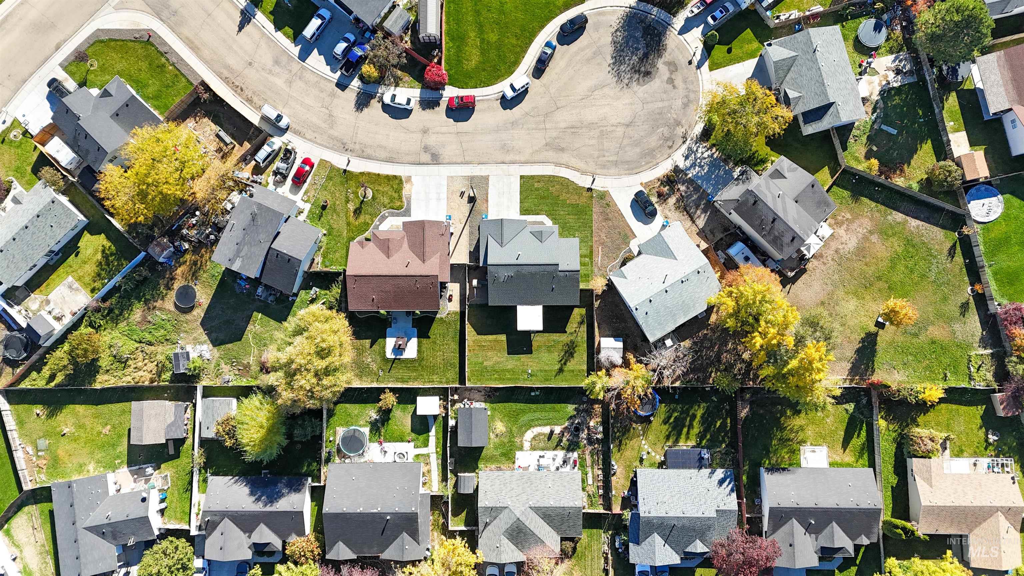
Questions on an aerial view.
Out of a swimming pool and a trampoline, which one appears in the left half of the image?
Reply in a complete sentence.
Visible in the left half of the image is a trampoline.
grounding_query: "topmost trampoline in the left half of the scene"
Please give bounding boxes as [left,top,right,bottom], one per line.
[175,284,199,306]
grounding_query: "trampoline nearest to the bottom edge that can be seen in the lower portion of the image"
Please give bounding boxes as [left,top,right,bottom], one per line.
[337,426,368,457]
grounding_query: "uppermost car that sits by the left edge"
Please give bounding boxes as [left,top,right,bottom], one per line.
[44,72,74,99]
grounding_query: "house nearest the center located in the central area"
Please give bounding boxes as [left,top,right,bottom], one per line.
[479,219,580,306]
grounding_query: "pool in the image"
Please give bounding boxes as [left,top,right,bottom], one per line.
[966,184,1004,222]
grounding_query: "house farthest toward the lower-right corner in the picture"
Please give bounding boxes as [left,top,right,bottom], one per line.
[903,454,1024,570]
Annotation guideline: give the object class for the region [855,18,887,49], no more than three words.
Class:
trampoline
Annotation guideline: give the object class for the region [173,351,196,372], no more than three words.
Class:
shed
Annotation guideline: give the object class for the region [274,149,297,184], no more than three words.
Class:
truck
